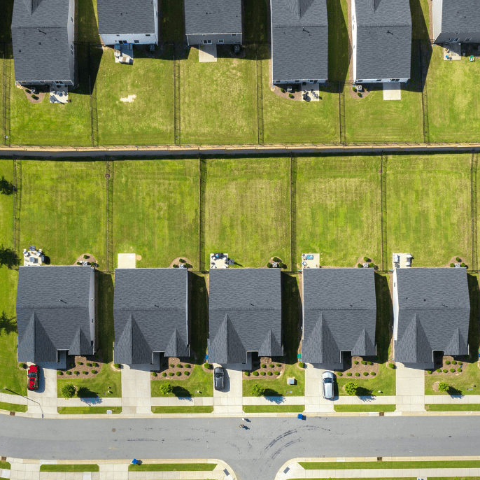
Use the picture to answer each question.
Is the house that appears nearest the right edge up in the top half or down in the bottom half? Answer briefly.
top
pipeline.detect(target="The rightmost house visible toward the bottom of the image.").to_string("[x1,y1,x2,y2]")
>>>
[393,266,470,364]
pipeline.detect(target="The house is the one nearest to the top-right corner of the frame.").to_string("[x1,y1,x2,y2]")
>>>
[434,0,480,44]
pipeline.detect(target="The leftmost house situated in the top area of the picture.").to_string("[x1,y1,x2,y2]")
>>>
[10,0,72,85]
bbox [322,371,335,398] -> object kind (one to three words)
vehicle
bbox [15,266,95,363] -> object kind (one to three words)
house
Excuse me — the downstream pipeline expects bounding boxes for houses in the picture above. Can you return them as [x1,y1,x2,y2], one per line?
[96,0,156,45]
[393,266,470,364]
[15,266,95,363]
[355,0,413,84]
[10,0,72,85]
[113,268,189,364]
[272,0,330,84]
[185,0,241,44]
[208,268,282,364]
[301,268,376,364]
[434,0,480,44]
